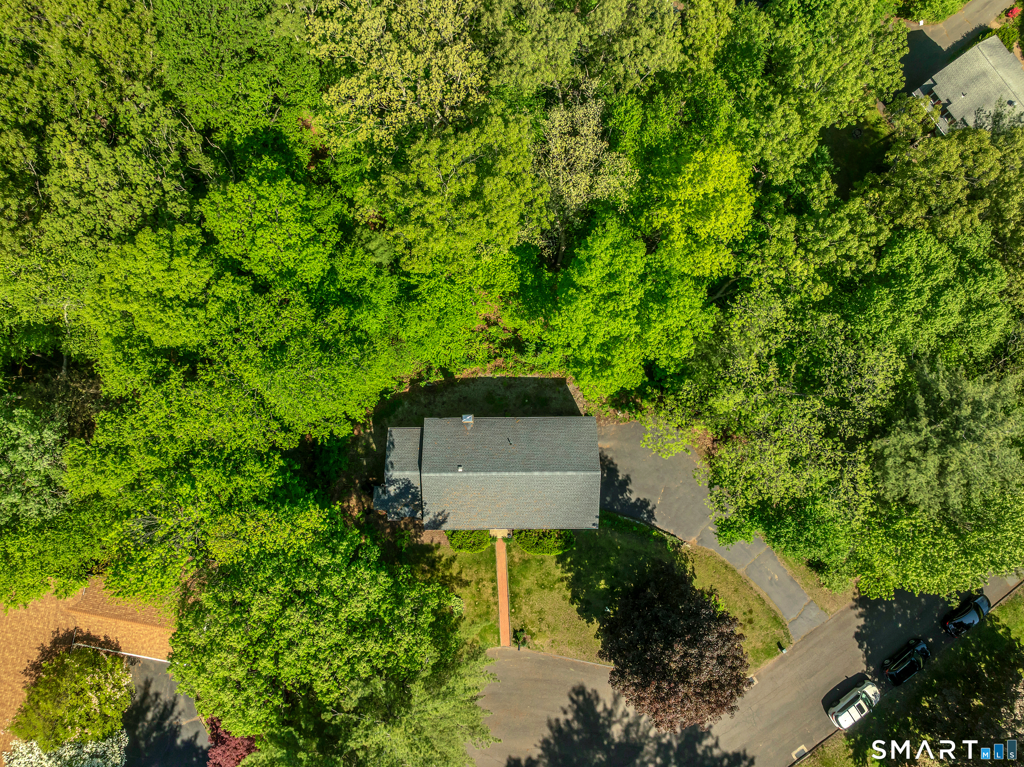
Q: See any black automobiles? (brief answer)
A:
Yes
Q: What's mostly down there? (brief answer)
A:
trees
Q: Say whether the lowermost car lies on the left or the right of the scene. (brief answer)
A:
right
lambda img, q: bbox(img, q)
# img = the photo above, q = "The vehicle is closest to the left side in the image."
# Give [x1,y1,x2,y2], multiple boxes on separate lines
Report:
[829,680,880,731]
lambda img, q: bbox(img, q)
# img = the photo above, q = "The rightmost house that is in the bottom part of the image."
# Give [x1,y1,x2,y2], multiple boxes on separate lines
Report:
[372,414,602,530]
